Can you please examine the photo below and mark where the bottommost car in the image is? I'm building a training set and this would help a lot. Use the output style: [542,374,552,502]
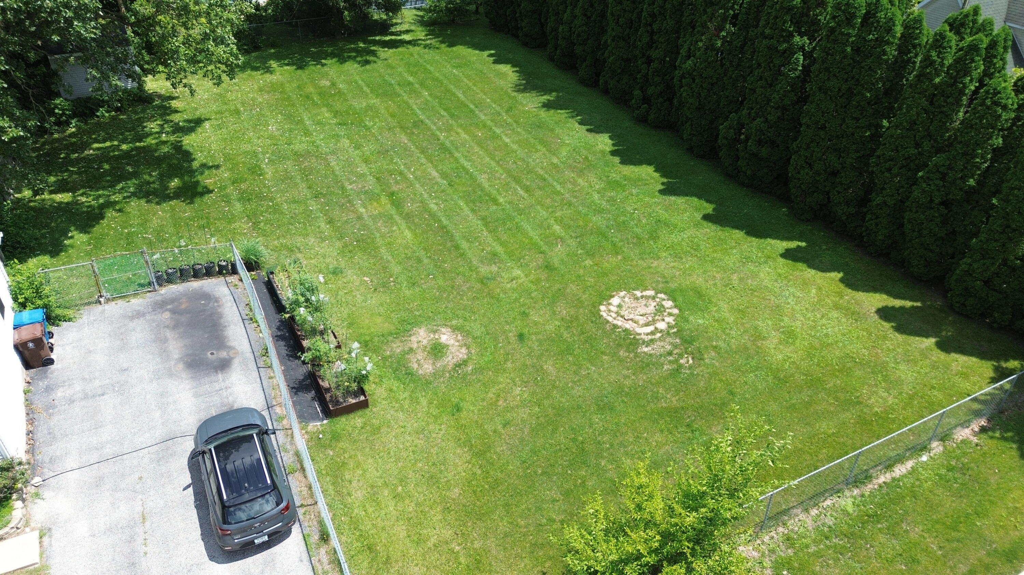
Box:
[190,411,300,561]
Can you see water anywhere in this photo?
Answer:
No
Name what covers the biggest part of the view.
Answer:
grass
